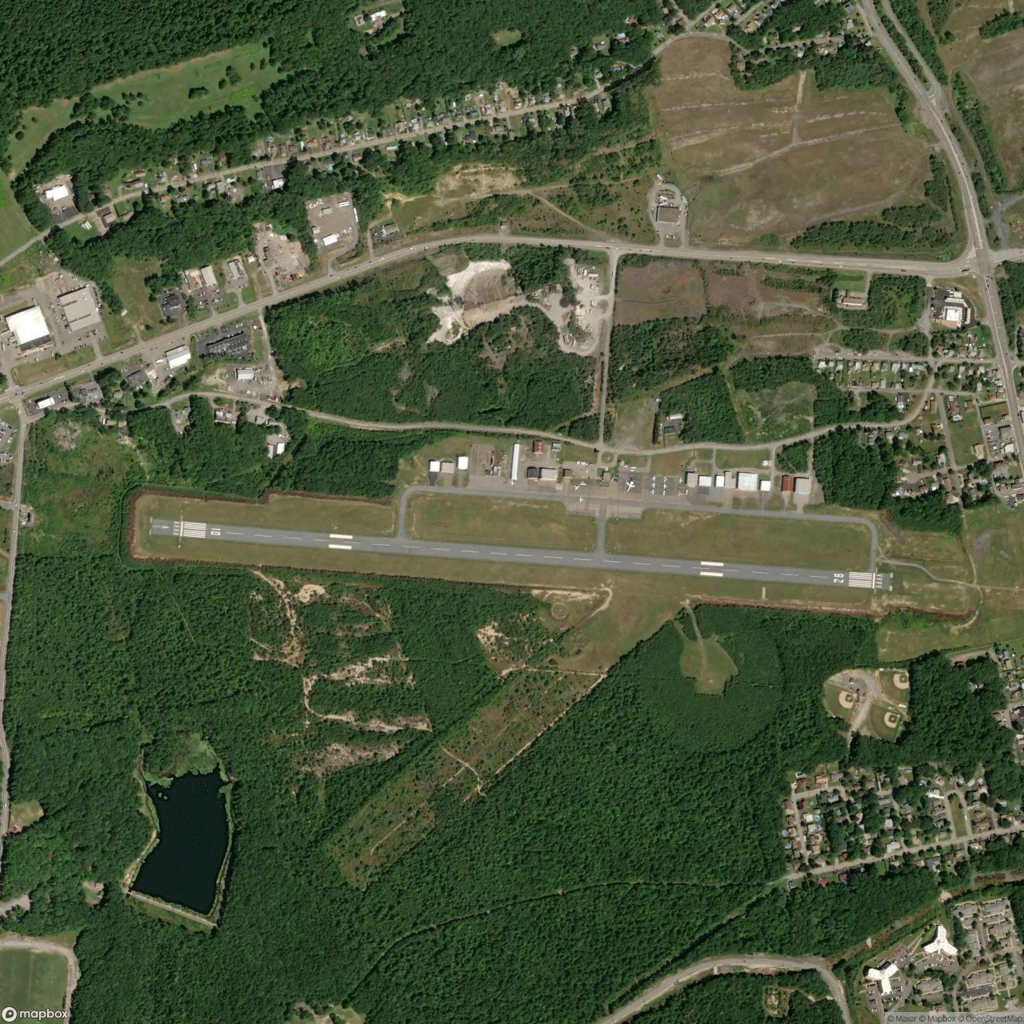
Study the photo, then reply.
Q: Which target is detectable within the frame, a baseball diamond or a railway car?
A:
baseball diamond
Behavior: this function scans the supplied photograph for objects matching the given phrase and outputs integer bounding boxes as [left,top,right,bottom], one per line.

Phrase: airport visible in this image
[150,444,893,598]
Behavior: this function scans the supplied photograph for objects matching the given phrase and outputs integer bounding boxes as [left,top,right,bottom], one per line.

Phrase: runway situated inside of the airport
[151,519,890,589]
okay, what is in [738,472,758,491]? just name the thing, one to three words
hangar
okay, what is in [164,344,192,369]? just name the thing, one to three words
building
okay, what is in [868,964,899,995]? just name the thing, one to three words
building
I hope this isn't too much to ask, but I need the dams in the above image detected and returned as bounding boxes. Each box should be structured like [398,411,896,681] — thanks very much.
[128,890,218,932]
